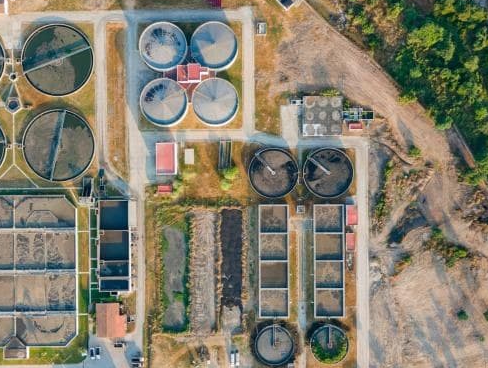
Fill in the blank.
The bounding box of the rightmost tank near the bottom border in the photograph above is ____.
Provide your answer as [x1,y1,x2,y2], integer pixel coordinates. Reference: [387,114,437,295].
[308,324,348,364]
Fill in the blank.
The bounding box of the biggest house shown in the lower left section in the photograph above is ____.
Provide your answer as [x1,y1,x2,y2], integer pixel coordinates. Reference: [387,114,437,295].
[96,303,127,339]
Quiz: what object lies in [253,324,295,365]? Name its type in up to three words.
storage tank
